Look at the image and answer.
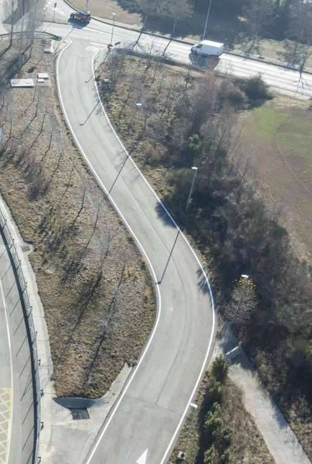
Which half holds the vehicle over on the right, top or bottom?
top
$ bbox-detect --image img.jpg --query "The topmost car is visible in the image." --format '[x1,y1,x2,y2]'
[69,11,92,26]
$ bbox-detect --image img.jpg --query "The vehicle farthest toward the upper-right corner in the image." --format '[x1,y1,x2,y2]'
[191,38,228,59]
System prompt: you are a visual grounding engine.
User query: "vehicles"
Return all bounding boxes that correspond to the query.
[191,38,228,59]
[69,11,92,26]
